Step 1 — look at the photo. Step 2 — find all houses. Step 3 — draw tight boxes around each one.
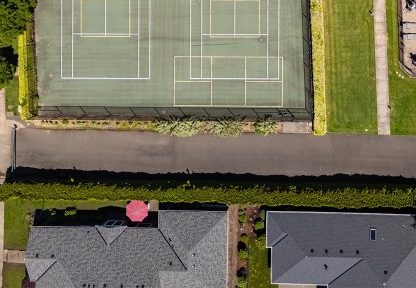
[266,206,416,288]
[23,205,229,288]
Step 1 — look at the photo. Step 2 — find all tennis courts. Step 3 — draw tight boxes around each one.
[168,0,311,116]
[34,0,169,116]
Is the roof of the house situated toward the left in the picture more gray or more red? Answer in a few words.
gray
